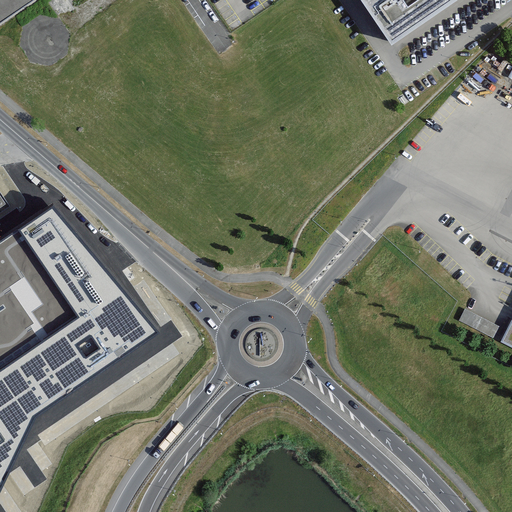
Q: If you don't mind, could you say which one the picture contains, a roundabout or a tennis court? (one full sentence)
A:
Looking from above, you can make out a roundabout.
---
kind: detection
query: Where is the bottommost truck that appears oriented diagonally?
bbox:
[155,424,183,456]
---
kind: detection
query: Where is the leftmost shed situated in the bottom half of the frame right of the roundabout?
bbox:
[459,308,500,338]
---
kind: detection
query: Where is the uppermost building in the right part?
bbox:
[359,0,460,46]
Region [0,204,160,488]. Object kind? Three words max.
building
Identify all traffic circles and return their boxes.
[216,300,307,390]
